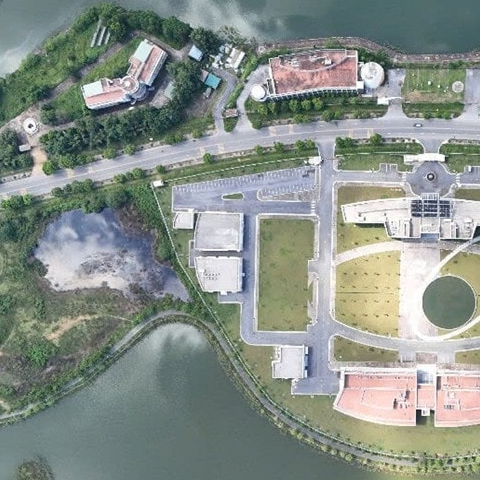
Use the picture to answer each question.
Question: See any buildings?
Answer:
Yes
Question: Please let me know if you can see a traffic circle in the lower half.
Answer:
No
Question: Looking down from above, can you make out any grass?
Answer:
Yes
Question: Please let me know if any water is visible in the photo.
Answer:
Yes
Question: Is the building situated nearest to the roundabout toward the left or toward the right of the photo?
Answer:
right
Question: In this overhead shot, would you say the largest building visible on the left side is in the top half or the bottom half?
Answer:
top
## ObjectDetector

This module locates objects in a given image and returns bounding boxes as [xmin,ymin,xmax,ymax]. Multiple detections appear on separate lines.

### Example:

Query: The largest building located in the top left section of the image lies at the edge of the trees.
[81,39,172,111]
